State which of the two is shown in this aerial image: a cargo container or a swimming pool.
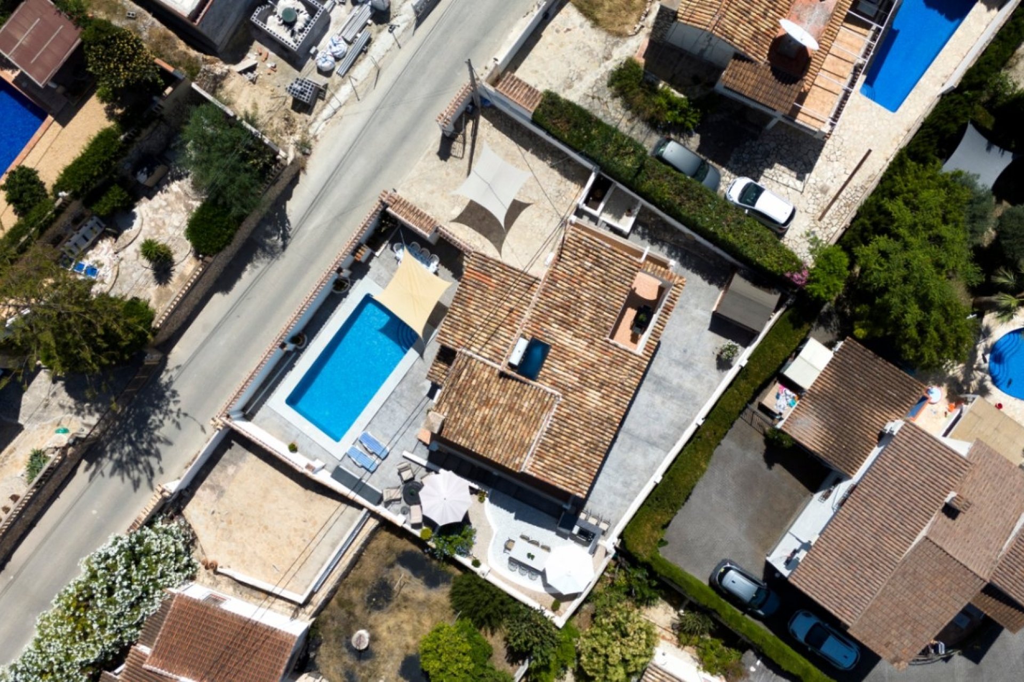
swimming pool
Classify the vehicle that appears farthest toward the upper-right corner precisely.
automobile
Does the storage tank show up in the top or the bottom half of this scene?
top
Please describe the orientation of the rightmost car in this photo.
at an angle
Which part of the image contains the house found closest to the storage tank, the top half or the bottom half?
top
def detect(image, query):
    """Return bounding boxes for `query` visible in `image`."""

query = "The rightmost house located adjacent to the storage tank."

[160,0,269,53]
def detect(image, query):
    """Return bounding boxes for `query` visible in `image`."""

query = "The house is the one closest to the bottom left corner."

[100,578,322,682]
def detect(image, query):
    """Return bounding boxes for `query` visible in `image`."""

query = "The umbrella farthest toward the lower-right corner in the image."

[544,544,594,594]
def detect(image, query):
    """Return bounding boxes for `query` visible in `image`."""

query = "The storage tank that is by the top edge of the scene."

[249,0,336,63]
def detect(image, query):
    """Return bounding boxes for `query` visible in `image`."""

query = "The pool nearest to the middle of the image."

[285,292,432,443]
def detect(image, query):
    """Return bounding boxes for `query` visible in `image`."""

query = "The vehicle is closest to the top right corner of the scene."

[723,180,796,235]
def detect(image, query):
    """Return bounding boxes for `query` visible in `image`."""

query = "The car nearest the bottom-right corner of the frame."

[784,605,862,670]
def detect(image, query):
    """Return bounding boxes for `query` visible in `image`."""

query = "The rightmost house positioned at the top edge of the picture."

[668,0,893,154]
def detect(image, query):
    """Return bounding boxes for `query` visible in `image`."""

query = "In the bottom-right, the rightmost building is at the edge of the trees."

[758,337,1024,673]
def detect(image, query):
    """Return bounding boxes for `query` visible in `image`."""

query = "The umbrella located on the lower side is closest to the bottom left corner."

[418,472,473,526]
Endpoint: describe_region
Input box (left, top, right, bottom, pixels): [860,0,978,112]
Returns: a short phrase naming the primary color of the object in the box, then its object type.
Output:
blue swimming pool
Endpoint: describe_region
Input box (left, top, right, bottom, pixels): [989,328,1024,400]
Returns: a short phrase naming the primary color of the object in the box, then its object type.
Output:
blue swimming pool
